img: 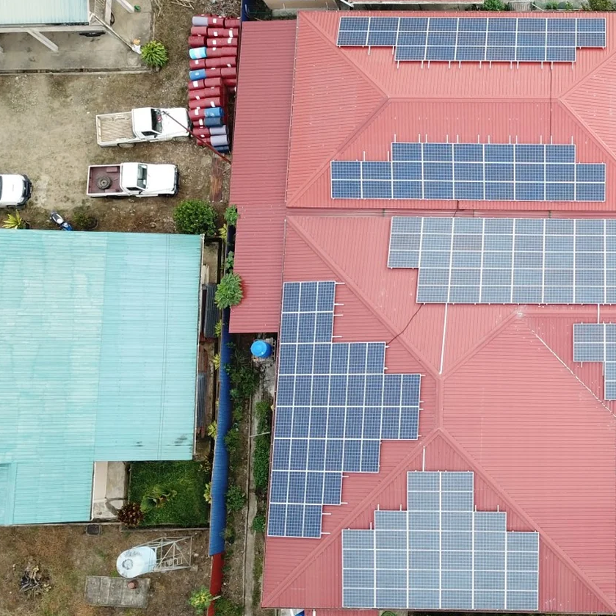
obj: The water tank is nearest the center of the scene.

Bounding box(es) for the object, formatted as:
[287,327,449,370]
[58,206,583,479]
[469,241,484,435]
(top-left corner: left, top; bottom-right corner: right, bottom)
[251,338,275,366]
